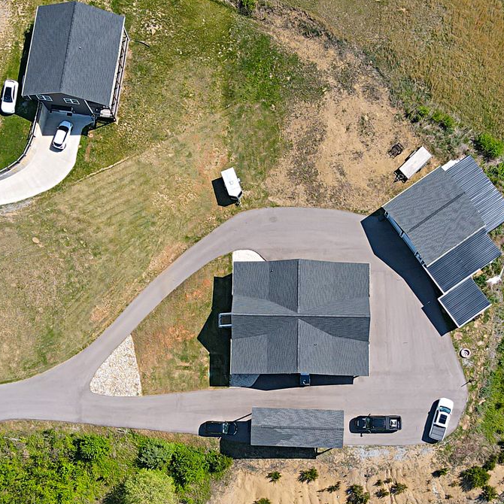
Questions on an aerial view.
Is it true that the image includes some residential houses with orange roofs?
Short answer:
No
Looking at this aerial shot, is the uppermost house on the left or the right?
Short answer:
left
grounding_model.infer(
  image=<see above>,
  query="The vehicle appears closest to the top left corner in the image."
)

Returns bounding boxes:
[0,82,18,115]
